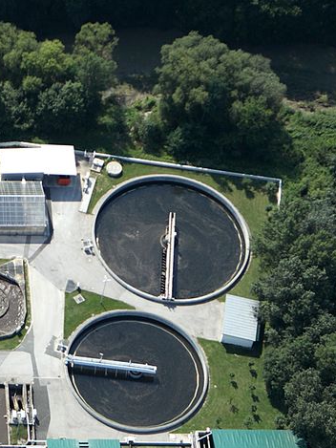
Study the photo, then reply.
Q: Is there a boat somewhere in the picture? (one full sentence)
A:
No, I can't see a single boat in this photo.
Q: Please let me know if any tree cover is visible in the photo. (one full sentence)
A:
Yes, the picture does contain tree cover.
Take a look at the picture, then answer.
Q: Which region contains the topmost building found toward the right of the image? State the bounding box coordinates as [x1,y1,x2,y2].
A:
[220,295,259,349]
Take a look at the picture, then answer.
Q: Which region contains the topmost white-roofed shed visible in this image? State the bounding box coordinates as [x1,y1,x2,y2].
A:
[0,145,76,186]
